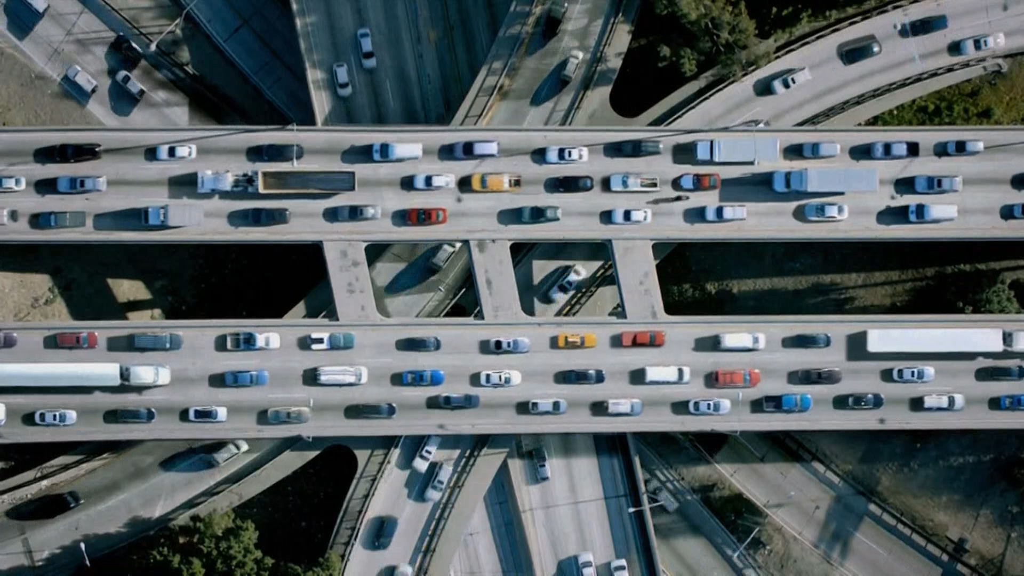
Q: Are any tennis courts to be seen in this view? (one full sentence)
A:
No, I can't see a single tennis court in this photo.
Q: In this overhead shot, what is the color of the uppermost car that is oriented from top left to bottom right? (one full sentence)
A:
From above, the uppermost car that is oriented from top left to bottom right appears black.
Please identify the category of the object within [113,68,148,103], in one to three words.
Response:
car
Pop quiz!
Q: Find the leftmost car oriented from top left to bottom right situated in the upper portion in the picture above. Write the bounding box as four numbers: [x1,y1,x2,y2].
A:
[65,63,101,98]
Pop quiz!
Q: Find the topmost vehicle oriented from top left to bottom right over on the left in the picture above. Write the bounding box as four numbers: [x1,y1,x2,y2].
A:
[110,32,145,65]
